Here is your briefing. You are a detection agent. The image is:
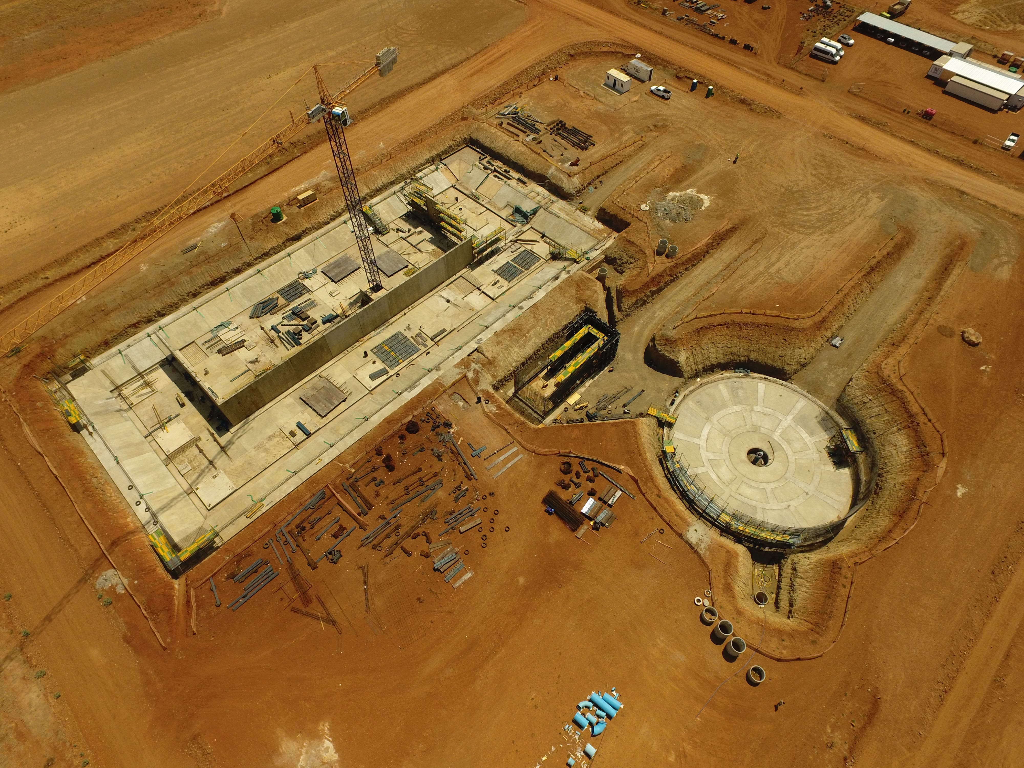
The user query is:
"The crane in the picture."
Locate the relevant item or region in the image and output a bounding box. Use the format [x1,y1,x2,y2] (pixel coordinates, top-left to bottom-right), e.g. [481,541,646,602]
[0,54,407,367]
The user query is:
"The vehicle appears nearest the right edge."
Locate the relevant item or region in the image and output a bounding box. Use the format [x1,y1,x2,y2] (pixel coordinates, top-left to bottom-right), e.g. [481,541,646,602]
[1002,132,1023,148]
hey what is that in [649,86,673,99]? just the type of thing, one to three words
vehicle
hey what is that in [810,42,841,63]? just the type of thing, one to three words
vehicle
